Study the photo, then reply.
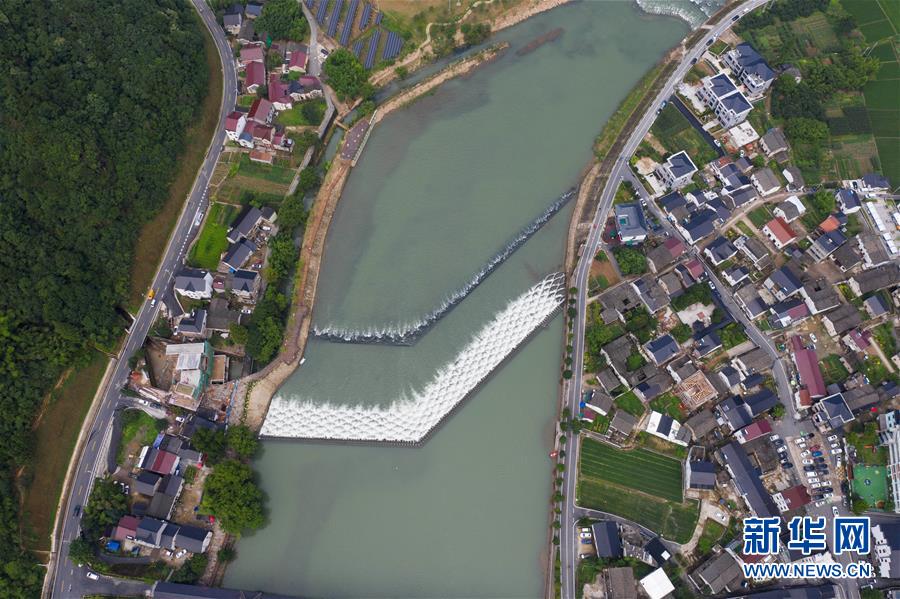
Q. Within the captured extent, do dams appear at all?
Yes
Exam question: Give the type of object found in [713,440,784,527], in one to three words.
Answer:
building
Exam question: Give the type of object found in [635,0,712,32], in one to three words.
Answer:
dam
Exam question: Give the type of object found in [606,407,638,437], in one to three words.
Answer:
house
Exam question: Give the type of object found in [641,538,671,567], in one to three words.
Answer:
shed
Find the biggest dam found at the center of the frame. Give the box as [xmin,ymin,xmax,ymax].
[258,266,566,450]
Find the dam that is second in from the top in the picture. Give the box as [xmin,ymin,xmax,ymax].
[308,177,585,346]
